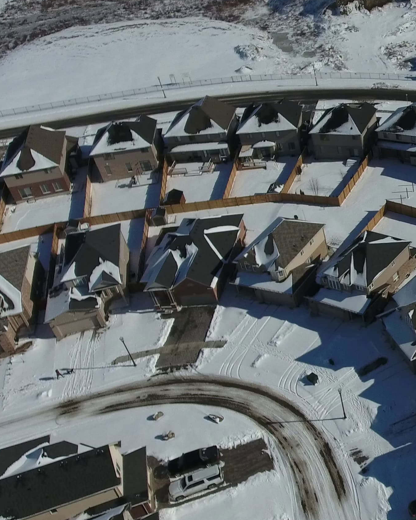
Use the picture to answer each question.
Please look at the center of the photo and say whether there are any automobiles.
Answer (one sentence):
No, no automobile is visible at the center of the photo.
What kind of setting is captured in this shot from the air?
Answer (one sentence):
The picture captures a residential area.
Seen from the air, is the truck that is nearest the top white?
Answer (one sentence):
No, from above the truck that is nearest the top looks black.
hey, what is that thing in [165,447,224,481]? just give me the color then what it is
black truck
